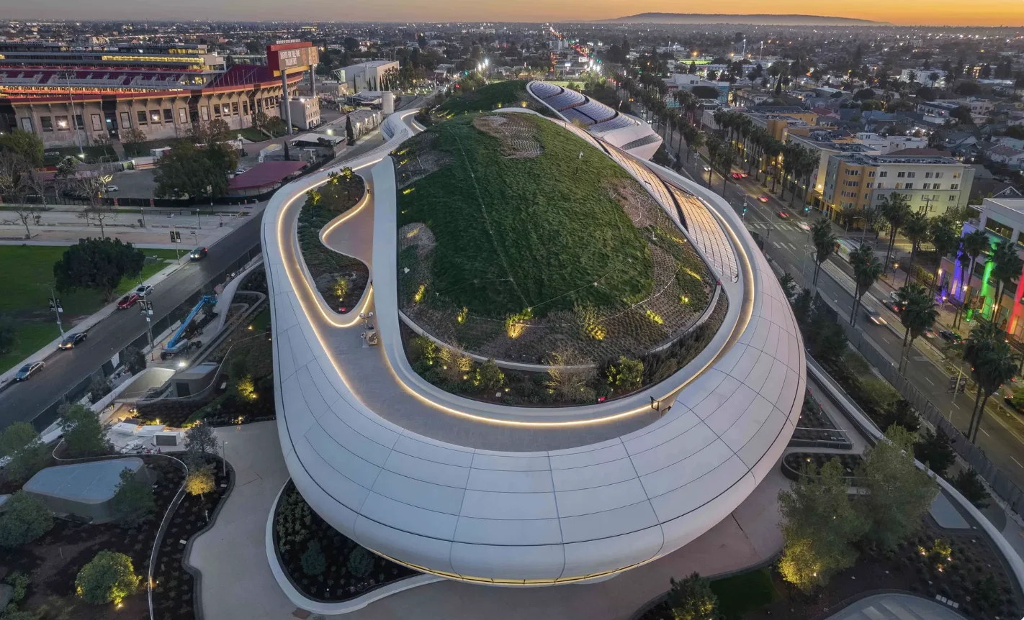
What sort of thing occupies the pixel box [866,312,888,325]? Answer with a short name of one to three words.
vehicle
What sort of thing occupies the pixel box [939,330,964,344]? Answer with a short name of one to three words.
car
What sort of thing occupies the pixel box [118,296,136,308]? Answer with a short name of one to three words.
vehicle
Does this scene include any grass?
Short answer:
Yes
